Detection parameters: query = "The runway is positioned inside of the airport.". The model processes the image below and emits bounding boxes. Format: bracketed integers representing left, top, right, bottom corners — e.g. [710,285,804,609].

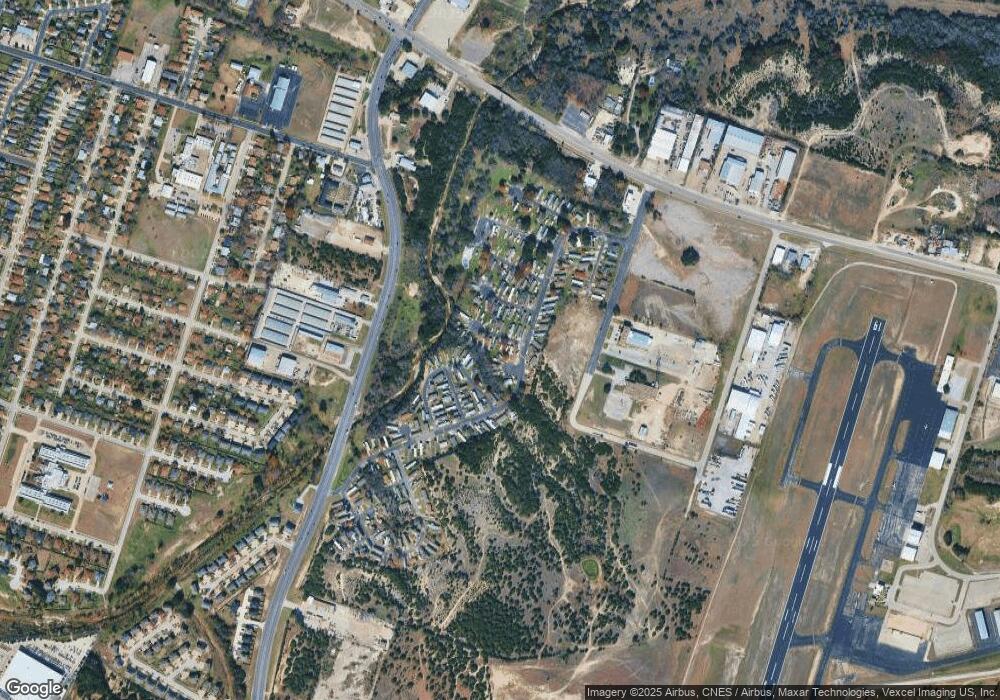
[762,316,887,700]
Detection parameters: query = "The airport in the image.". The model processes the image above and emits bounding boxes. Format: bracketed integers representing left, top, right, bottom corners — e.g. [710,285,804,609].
[761,315,987,700]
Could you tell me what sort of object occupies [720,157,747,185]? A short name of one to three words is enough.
building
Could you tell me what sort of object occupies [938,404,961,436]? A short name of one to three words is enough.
hangar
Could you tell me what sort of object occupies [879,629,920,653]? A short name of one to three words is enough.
hangar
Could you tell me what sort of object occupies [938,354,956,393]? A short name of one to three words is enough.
building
